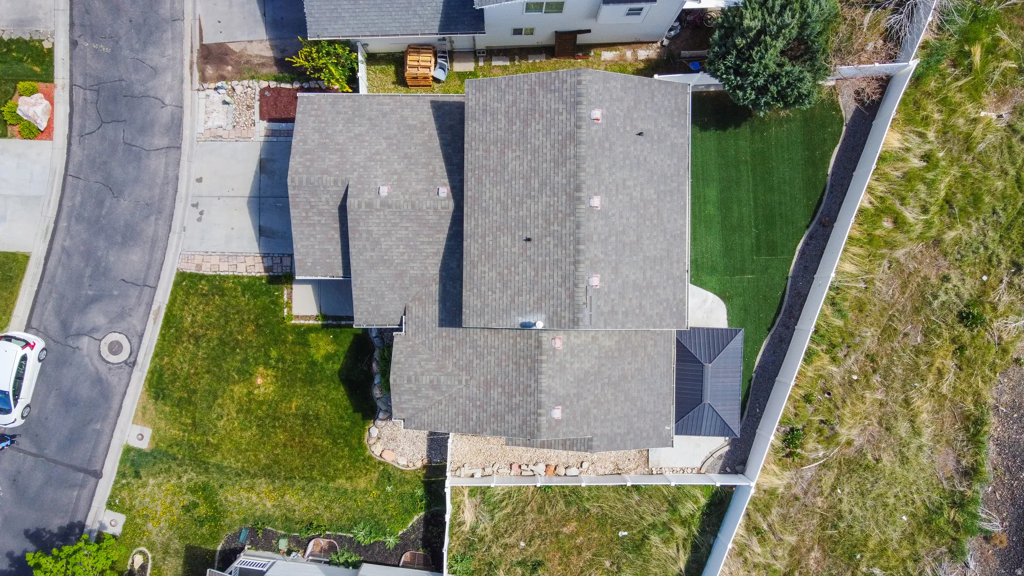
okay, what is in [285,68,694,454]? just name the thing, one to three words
house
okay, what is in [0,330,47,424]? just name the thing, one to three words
car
